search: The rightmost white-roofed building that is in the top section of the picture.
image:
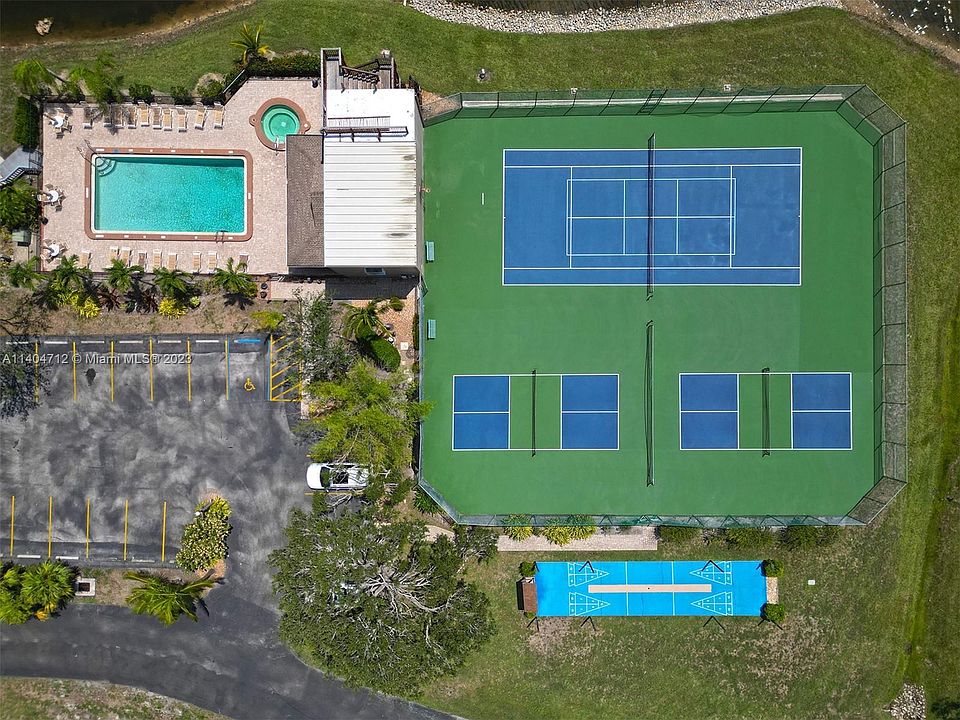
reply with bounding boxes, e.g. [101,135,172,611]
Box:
[287,89,424,277]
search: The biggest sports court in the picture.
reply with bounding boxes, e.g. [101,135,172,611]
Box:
[423,99,883,516]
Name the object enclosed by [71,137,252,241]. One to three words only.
swimming pool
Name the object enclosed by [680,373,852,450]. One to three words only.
sports court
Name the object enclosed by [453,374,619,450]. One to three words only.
sports court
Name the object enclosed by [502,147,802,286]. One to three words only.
tennis court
